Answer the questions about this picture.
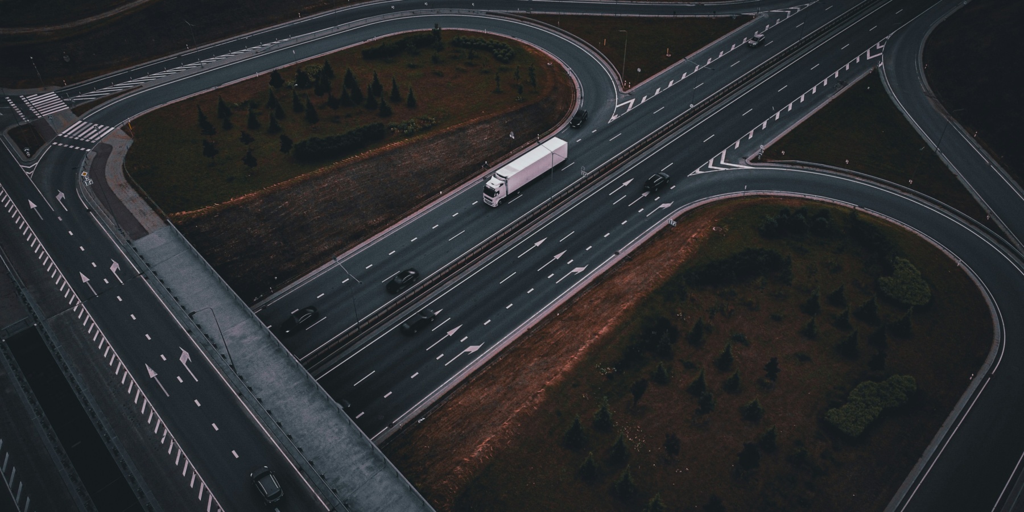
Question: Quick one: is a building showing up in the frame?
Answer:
No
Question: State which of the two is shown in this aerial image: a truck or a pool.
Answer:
truck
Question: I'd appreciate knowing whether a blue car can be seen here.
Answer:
No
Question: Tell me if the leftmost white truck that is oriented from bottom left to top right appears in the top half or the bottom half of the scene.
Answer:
top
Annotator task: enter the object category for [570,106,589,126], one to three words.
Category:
car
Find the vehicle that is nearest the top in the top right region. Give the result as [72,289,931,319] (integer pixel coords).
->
[745,28,765,43]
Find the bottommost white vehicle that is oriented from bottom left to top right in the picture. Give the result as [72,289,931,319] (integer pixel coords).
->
[483,135,570,205]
